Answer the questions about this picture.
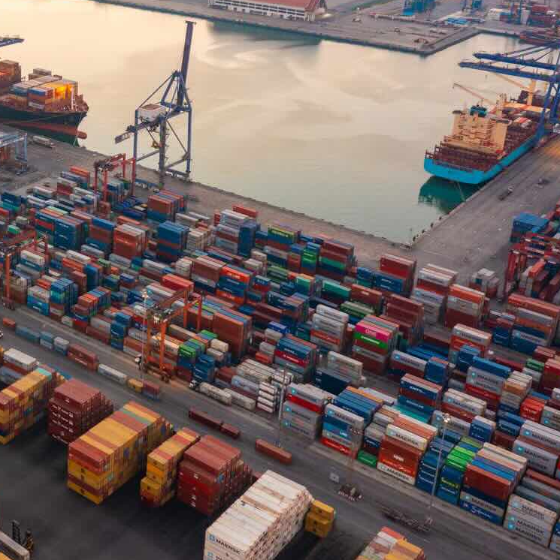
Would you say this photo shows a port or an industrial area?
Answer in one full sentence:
The picture captures a port.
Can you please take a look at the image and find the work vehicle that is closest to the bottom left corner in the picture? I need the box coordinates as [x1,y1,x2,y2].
[9,512,43,553]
